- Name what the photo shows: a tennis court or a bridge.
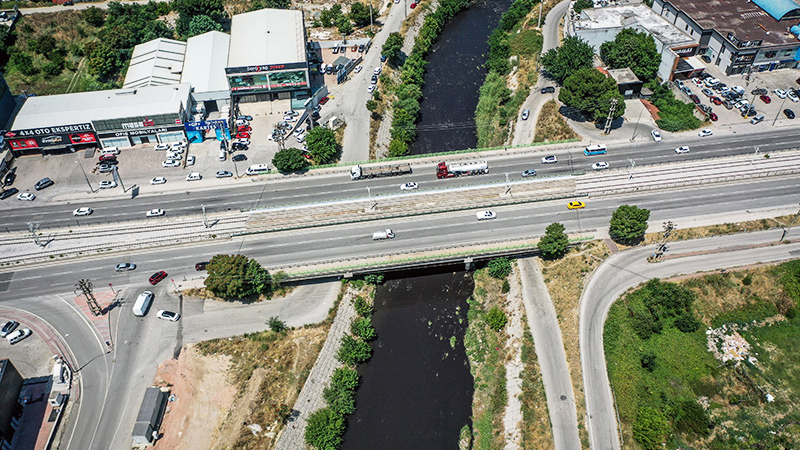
bridge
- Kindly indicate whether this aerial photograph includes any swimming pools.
No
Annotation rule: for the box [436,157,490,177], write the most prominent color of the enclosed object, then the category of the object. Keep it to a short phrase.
white vehicle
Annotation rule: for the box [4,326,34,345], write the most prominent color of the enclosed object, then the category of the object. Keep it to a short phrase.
white vehicle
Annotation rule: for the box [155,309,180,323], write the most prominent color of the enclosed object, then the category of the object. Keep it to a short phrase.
white car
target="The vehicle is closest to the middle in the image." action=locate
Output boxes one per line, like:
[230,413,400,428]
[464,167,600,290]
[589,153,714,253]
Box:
[371,223,395,240]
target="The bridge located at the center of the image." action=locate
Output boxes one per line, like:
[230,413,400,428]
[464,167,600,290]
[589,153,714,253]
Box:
[252,139,601,288]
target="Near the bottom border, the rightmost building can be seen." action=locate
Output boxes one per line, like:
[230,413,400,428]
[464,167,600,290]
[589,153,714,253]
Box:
[131,386,168,444]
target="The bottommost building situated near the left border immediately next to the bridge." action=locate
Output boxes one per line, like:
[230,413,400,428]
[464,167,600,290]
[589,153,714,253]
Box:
[0,80,192,159]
